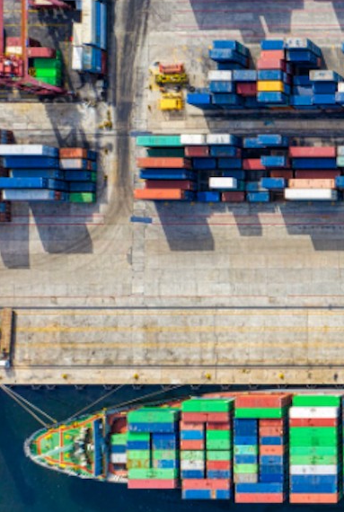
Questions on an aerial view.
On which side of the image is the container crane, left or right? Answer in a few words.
left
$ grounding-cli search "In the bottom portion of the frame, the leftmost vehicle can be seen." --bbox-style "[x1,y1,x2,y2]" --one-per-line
[0,309,15,368]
